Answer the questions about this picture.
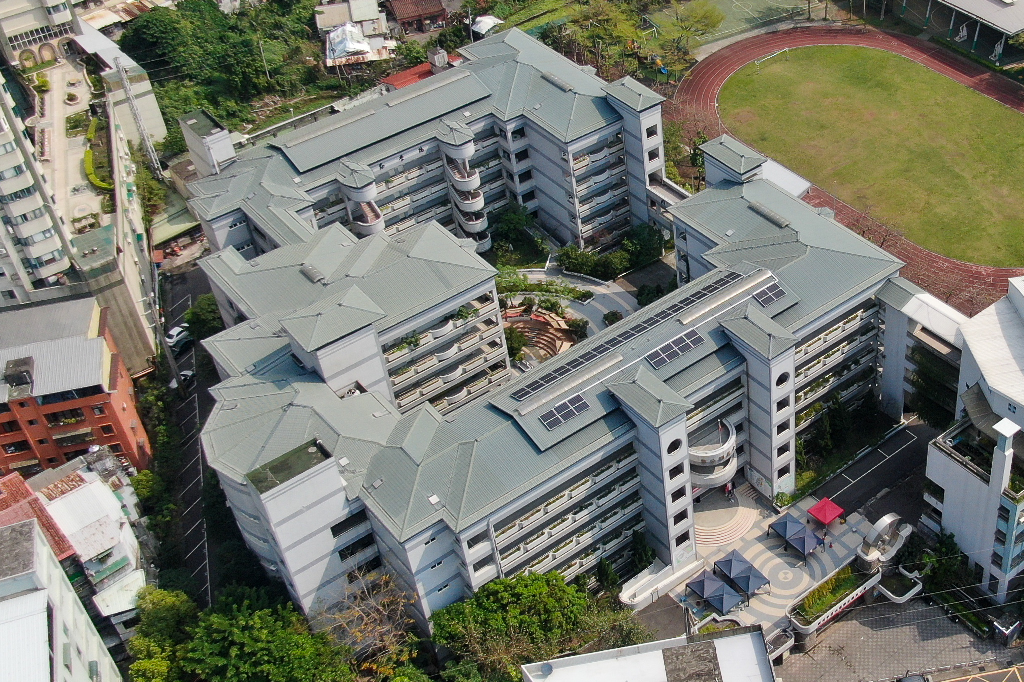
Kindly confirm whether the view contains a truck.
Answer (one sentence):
No, the frame has no truck in it.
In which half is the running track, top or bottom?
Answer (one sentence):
The running track sits in the top half of the picture.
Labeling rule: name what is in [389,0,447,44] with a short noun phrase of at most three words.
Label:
house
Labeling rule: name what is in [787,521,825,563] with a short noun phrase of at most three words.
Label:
tent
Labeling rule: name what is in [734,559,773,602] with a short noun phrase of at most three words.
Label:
tent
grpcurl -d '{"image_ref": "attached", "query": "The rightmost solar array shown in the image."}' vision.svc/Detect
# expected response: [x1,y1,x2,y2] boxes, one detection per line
[754,282,787,307]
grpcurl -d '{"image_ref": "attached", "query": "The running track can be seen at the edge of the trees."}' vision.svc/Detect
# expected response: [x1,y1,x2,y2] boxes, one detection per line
[676,32,1024,289]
